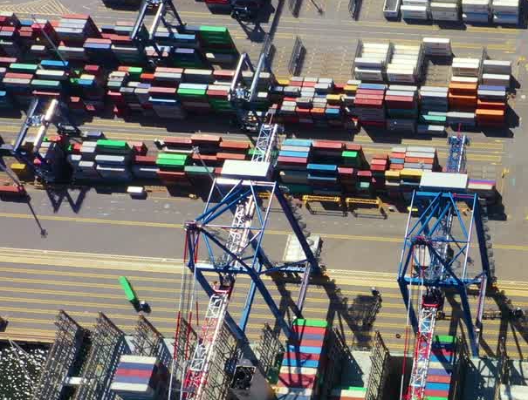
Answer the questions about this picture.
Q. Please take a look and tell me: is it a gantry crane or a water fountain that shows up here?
gantry crane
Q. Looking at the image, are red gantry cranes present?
No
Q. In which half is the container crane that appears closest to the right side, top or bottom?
bottom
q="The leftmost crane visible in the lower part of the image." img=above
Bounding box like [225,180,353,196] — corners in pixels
[165,122,322,400]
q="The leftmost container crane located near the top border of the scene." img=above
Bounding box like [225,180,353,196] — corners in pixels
[130,0,184,82]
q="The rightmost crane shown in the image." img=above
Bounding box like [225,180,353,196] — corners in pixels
[396,133,496,400]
